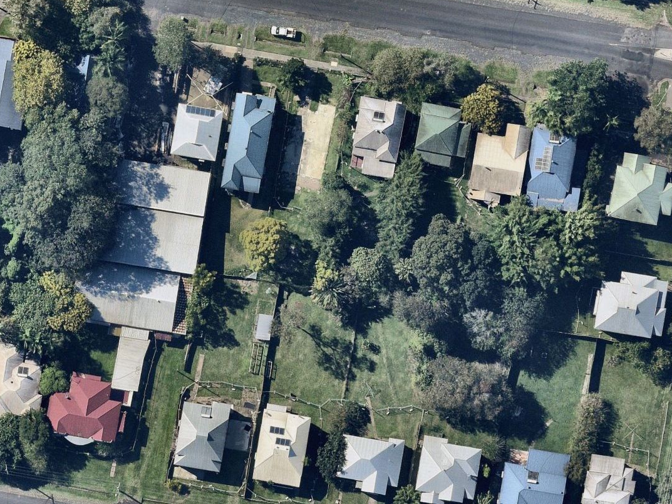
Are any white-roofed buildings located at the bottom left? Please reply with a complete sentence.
Yes, a white-roofed building is visible at the bottom left.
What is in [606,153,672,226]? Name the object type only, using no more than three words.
house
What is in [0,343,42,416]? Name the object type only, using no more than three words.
house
